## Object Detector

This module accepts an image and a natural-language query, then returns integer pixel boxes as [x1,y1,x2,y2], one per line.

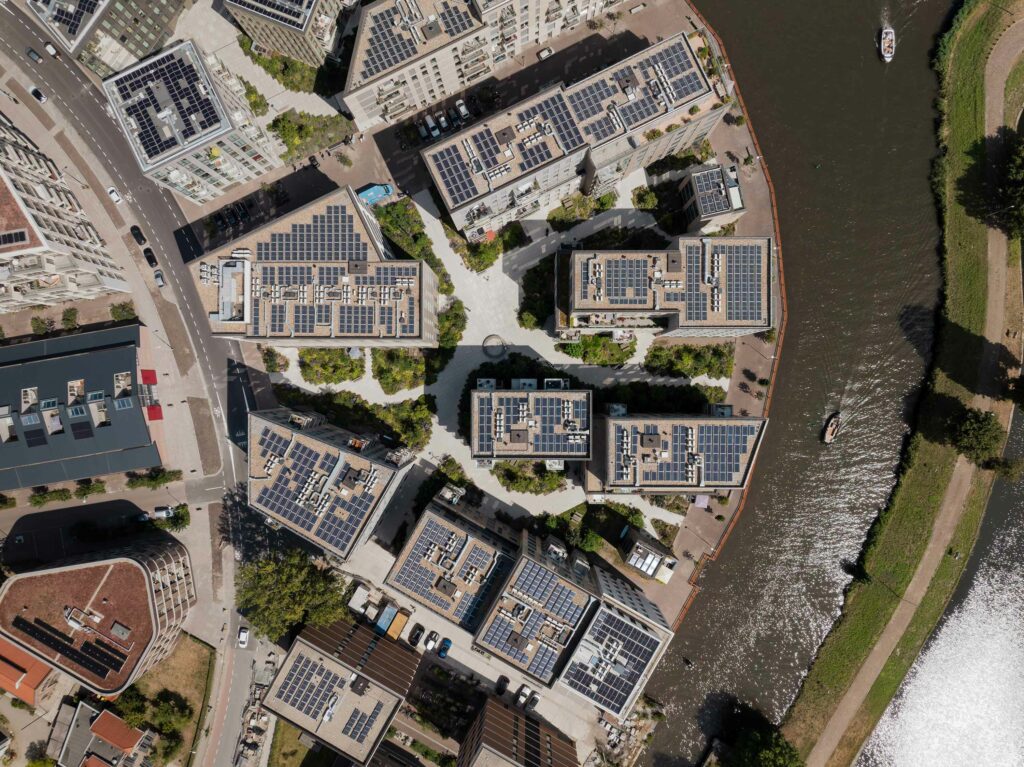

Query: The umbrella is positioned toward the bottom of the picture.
[697,496,710,509]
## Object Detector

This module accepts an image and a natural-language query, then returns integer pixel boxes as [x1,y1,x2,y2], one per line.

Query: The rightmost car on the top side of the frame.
[533,46,556,63]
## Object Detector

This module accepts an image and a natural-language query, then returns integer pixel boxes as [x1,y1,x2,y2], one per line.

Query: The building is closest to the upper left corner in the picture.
[26,0,172,80]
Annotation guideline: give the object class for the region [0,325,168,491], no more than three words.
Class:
house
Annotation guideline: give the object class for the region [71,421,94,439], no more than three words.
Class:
solar panel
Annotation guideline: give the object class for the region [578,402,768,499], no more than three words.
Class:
building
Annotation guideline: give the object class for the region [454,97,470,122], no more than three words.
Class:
car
